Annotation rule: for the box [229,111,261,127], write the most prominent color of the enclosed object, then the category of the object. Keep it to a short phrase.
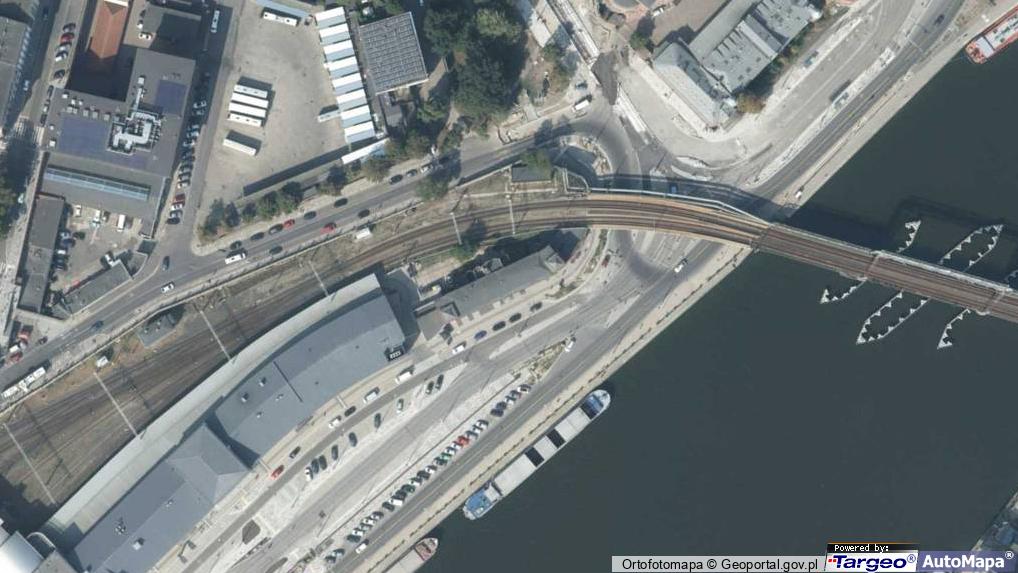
white vehicle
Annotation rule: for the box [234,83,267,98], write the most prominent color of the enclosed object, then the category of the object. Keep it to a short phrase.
white vehicle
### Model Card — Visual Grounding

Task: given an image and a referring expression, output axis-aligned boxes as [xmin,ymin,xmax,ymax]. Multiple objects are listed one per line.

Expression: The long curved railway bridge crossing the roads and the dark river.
[585,188,1018,321]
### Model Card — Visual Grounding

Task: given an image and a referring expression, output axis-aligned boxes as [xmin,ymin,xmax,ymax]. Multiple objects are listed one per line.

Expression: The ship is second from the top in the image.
[451,385,611,521]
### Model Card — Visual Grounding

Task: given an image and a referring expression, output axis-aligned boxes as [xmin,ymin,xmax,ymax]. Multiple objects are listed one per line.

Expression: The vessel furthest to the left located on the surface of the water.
[389,529,440,573]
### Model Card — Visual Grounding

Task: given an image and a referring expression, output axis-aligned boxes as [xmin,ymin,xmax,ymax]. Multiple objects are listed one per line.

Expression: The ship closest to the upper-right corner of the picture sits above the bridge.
[954,6,1018,63]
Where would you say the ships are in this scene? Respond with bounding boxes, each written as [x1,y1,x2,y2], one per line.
[954,6,1018,63]
[389,529,440,573]
[451,385,611,521]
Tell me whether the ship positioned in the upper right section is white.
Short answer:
Yes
